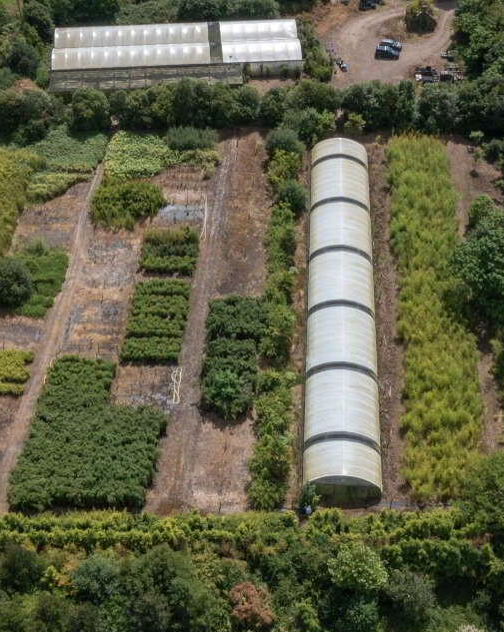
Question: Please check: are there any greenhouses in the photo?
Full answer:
Yes, a greenhouse can be made out from above.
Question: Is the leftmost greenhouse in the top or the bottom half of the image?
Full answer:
The leftmost greenhouse sits in the top half of the picture.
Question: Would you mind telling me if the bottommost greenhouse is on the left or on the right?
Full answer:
It is on the right.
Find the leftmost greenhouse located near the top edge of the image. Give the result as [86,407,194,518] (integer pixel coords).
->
[51,23,240,90]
